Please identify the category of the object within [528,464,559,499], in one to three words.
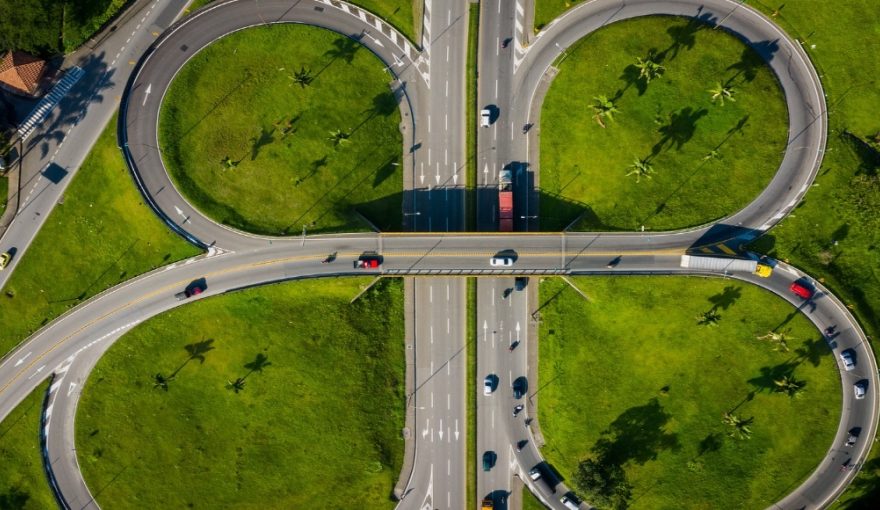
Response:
truck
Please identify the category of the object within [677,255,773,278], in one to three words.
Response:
truck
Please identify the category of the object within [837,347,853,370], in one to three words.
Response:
car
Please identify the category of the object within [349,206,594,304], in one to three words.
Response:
bridge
